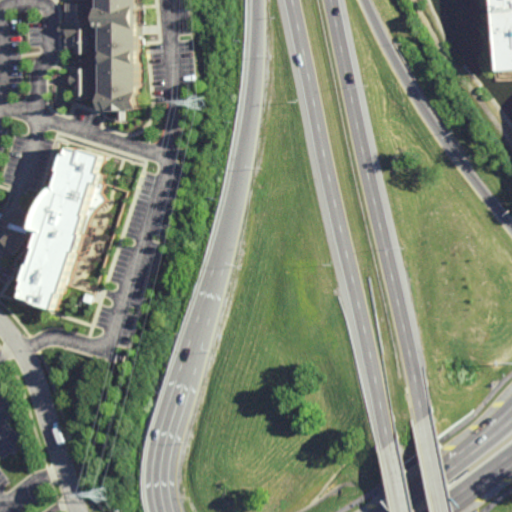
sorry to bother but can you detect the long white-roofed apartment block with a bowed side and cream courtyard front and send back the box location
[7,148,108,310]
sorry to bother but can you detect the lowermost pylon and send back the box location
[66,486,110,504]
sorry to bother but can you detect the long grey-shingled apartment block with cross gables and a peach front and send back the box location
[87,0,148,122]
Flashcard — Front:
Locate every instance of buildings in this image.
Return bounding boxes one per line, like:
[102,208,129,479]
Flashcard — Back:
[7,148,108,310]
[87,0,148,122]
[486,0,512,85]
